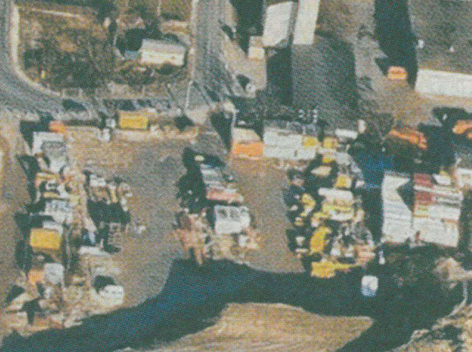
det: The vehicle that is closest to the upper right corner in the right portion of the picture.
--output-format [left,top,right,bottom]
[389,65,411,82]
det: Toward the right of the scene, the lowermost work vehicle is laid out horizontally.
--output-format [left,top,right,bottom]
[307,261,362,284]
